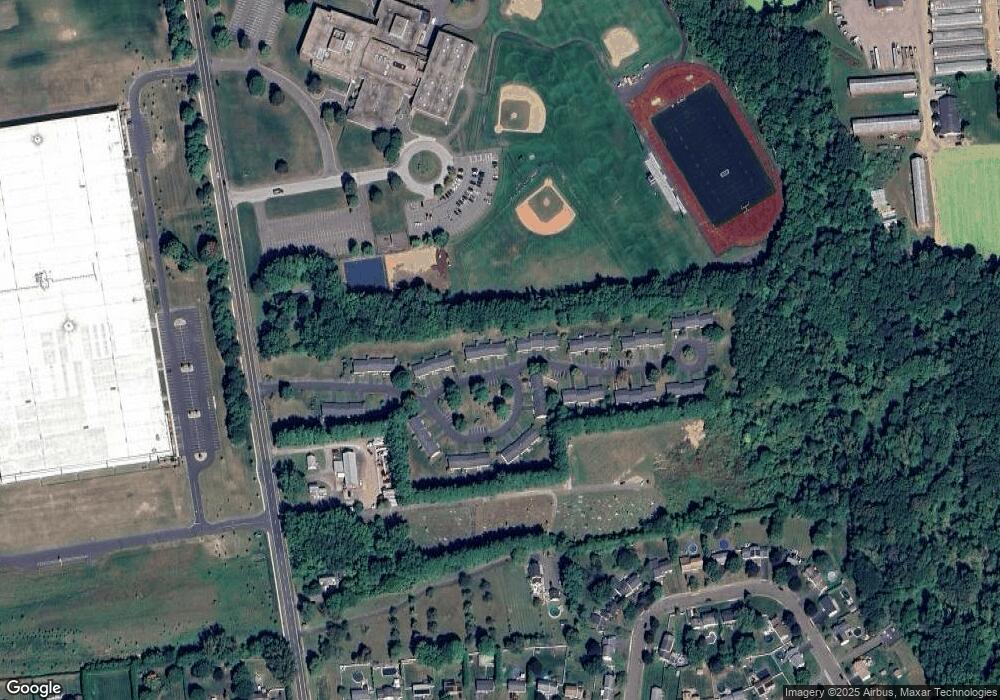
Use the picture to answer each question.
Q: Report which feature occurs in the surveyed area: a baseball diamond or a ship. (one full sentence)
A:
Visible in the photo is a baseball diamond.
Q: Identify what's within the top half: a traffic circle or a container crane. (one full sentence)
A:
It is a traffic circle that can be seen within the top half.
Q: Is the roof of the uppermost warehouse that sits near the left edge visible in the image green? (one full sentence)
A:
No, from above the roof of the uppermost warehouse that sits near the left edge looks white.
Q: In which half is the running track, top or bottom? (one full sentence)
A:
Seen from above, the running track lies in the top half of the view.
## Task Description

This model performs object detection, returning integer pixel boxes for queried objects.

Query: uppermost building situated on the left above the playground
[300,0,477,132]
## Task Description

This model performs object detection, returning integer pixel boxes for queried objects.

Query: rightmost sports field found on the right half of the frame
[650,83,778,226]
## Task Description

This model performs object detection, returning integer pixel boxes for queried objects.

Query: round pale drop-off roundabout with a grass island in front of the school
[399,140,453,193]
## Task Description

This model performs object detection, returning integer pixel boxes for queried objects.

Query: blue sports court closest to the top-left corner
[344,257,388,293]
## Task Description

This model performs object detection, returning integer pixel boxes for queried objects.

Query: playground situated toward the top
[386,247,449,296]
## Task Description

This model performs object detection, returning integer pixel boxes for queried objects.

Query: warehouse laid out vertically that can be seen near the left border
[0,110,175,482]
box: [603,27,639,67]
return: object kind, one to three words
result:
baseball field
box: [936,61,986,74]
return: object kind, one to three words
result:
greenhouse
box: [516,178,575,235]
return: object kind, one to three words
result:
baseball field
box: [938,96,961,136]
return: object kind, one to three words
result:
barn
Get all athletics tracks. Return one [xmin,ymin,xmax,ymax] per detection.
[626,62,783,256]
